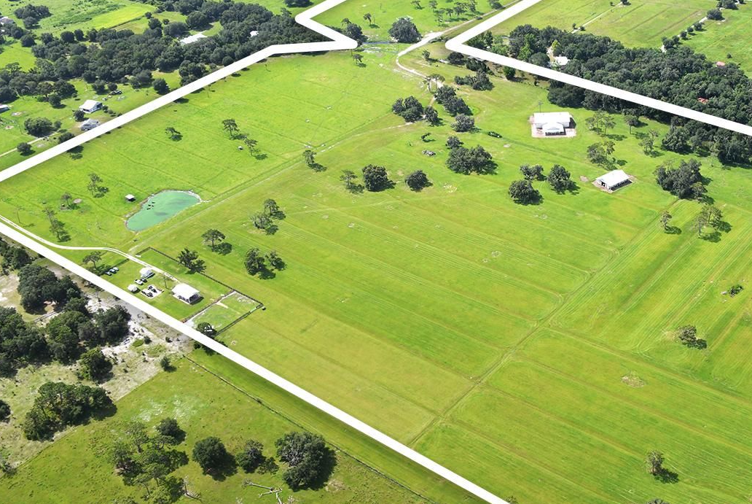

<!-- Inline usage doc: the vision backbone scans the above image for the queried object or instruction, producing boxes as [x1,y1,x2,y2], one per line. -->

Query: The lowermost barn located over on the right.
[597,170,631,192]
